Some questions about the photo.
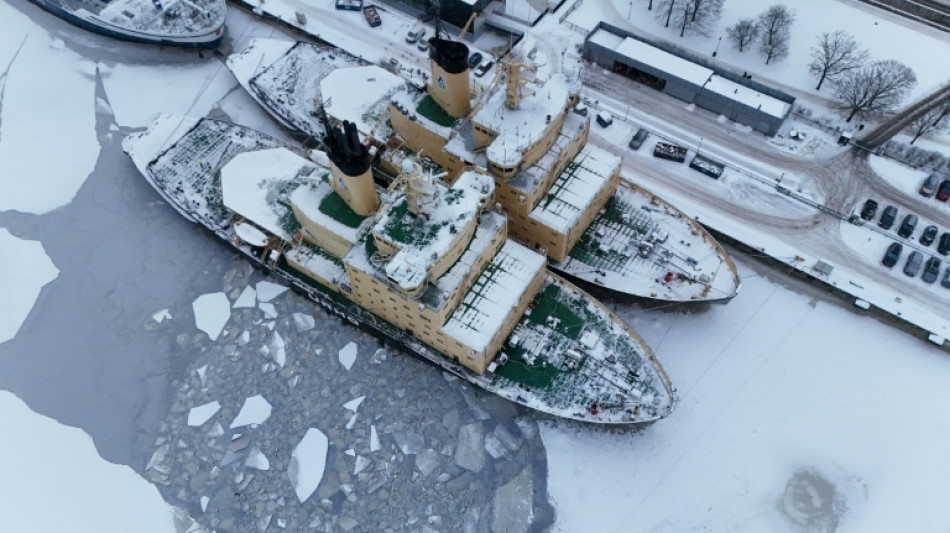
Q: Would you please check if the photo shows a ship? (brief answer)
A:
Yes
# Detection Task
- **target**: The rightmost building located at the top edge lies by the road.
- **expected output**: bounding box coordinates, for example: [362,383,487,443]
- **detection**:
[582,20,794,137]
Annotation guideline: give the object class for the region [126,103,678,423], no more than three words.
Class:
ship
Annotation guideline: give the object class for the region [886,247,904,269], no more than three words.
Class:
car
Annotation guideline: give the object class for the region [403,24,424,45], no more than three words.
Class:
vehicle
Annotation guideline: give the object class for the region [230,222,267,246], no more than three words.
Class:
boat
